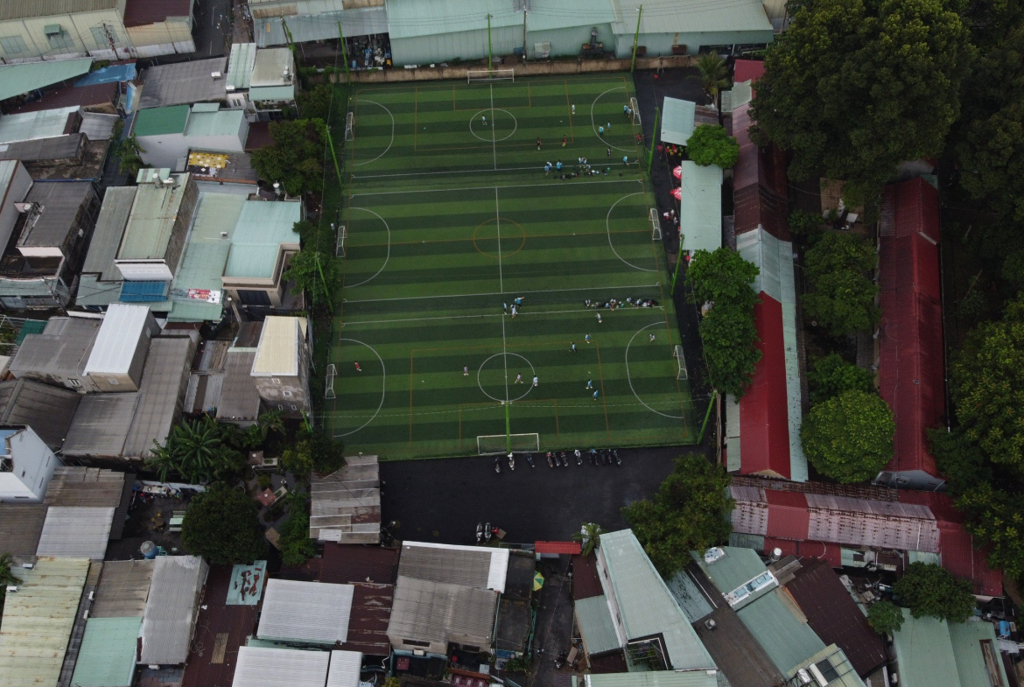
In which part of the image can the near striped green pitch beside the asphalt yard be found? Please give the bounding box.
[321,296,697,460]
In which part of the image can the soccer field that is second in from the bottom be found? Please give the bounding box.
[331,171,671,312]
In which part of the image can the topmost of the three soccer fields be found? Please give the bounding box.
[341,71,649,186]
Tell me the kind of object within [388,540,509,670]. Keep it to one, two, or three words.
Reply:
house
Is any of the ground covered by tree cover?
Yes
